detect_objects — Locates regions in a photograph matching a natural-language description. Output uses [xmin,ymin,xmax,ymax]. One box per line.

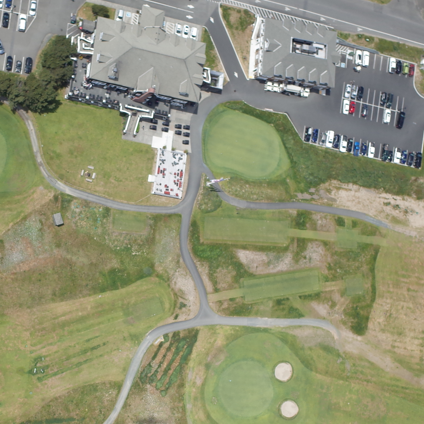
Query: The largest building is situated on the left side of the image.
[67,5,210,135]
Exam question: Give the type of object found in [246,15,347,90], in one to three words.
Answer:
building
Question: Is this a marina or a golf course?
golf course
